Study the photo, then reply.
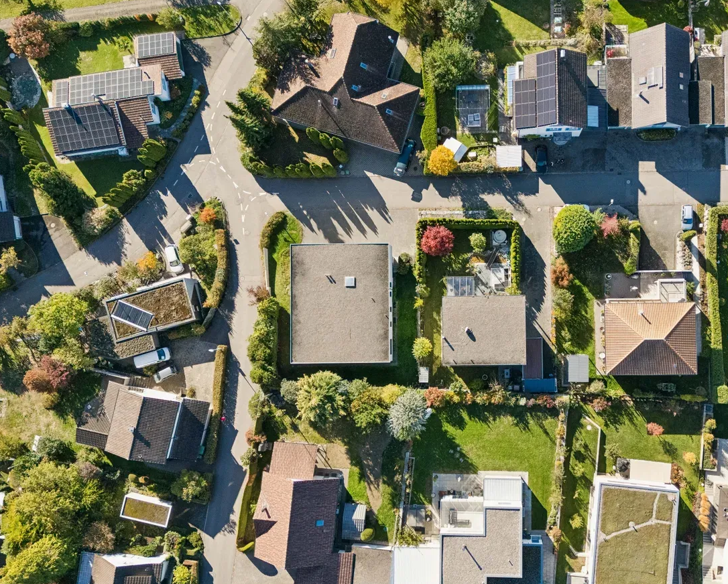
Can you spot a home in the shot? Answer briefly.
Yes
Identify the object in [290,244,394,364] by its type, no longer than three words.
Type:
house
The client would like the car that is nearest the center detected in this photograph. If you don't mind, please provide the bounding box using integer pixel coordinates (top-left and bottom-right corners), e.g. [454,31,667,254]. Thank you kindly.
[393,139,416,176]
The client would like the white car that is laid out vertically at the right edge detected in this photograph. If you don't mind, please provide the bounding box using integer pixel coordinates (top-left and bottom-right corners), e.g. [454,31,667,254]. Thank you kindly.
[680,204,692,231]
